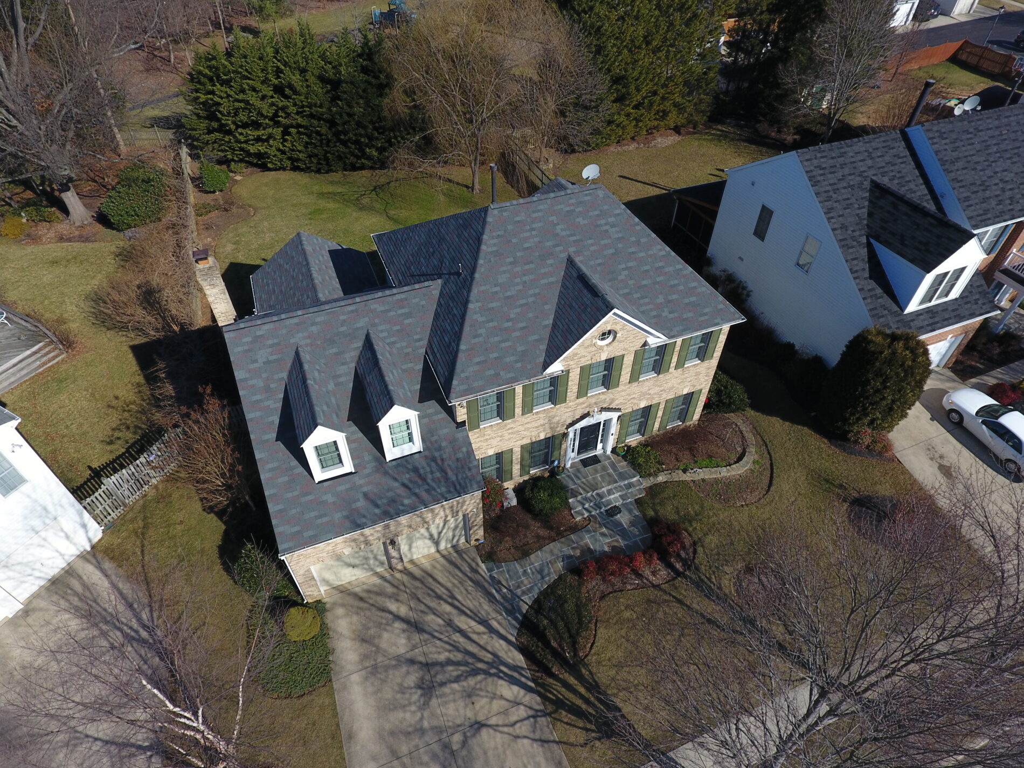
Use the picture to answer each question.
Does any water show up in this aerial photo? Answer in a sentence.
No, no water is visible.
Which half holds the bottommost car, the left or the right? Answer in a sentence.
The bottommost car is on the right side of the image.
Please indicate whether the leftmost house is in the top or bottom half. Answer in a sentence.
The leftmost house sits in the bottom half of the picture.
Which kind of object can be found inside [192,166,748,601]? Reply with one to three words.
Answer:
house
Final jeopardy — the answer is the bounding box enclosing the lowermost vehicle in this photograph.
[947,395,1024,469]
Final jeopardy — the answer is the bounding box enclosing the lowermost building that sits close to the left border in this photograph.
[0,403,116,617]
